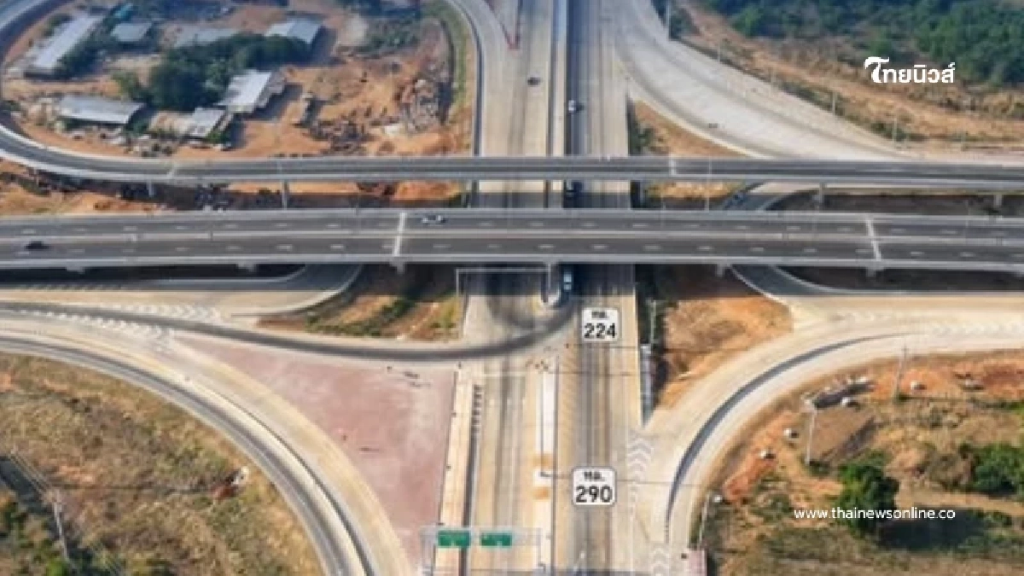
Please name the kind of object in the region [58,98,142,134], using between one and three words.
shed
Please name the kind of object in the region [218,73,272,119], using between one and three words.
shed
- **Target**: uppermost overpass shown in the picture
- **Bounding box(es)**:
[0,0,1024,203]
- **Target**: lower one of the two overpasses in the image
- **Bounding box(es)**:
[0,209,1024,280]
